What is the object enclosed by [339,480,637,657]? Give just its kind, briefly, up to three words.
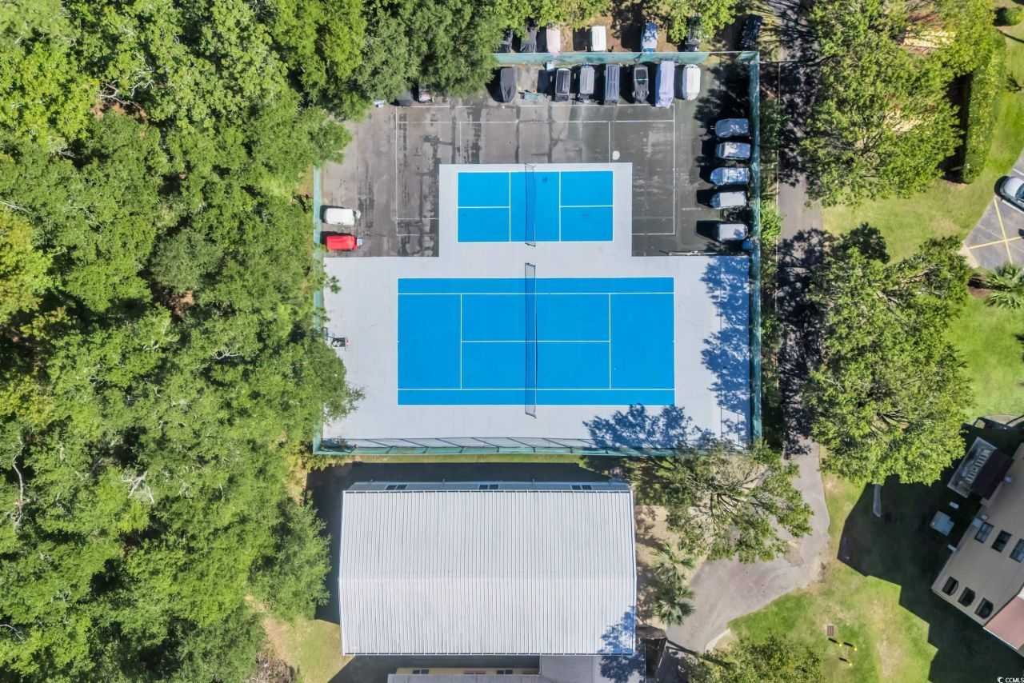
building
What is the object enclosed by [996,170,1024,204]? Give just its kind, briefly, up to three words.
car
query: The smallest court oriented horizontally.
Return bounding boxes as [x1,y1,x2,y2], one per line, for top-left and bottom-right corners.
[439,163,632,257]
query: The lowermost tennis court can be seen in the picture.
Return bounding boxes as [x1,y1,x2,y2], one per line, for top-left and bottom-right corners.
[323,257,750,447]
